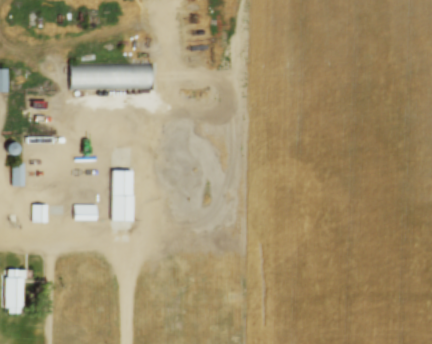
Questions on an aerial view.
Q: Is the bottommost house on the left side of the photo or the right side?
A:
left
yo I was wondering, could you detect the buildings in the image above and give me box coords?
[6,270,27,314]
[12,164,24,186]
[32,205,48,224]
[0,68,8,92]
[111,170,134,221]
[74,205,98,222]
[70,66,154,90]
